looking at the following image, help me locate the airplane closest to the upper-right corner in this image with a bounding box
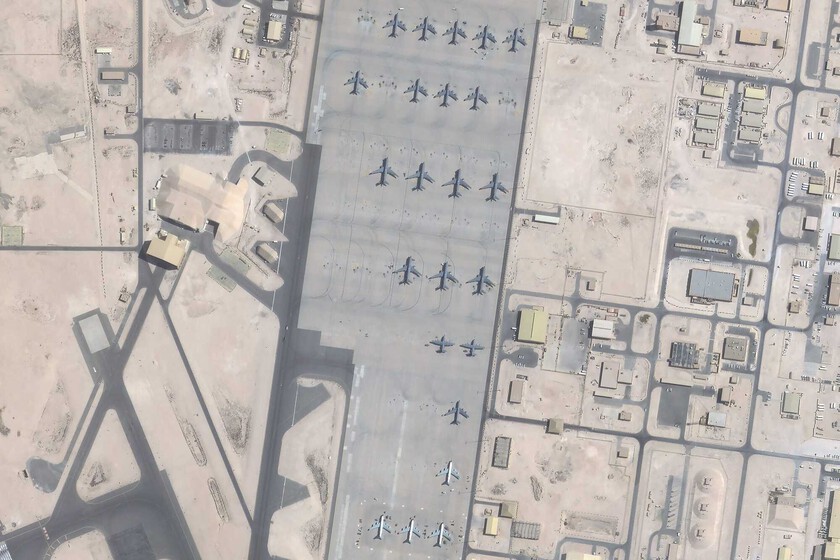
[503,29,527,52]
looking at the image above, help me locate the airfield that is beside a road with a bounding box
[0,0,541,560]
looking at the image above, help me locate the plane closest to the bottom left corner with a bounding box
[368,516,393,540]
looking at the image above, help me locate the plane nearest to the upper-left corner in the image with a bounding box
[345,71,368,95]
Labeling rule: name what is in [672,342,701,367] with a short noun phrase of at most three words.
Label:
building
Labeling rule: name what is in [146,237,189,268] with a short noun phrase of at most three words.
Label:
hangar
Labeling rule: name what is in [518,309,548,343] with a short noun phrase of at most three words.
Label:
hangar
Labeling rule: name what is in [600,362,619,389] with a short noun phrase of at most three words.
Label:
building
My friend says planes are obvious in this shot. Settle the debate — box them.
[445,401,469,426]
[394,257,422,285]
[431,335,456,353]
[433,84,458,107]
[436,462,462,486]
[383,13,408,37]
[413,16,438,40]
[473,25,497,49]
[404,79,428,102]
[399,519,423,544]
[442,170,471,198]
[463,87,488,111]
[468,267,496,295]
[479,173,508,202]
[442,20,467,44]
[407,162,436,191]
[345,71,368,95]
[503,29,527,52]
[427,522,453,548]
[460,339,486,357]
[431,262,459,290]
[371,157,399,186]
[368,516,393,540]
